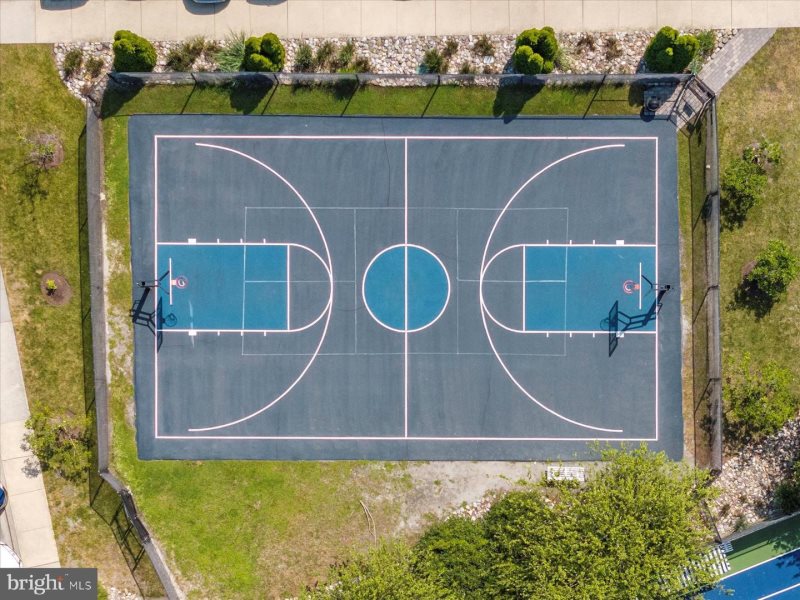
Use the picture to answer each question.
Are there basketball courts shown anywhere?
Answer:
Yes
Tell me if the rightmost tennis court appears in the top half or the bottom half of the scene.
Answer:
bottom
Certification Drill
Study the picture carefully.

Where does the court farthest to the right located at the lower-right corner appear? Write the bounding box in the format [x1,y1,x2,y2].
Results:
[654,517,800,600]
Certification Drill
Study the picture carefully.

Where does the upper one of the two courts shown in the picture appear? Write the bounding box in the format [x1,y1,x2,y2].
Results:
[130,115,684,462]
